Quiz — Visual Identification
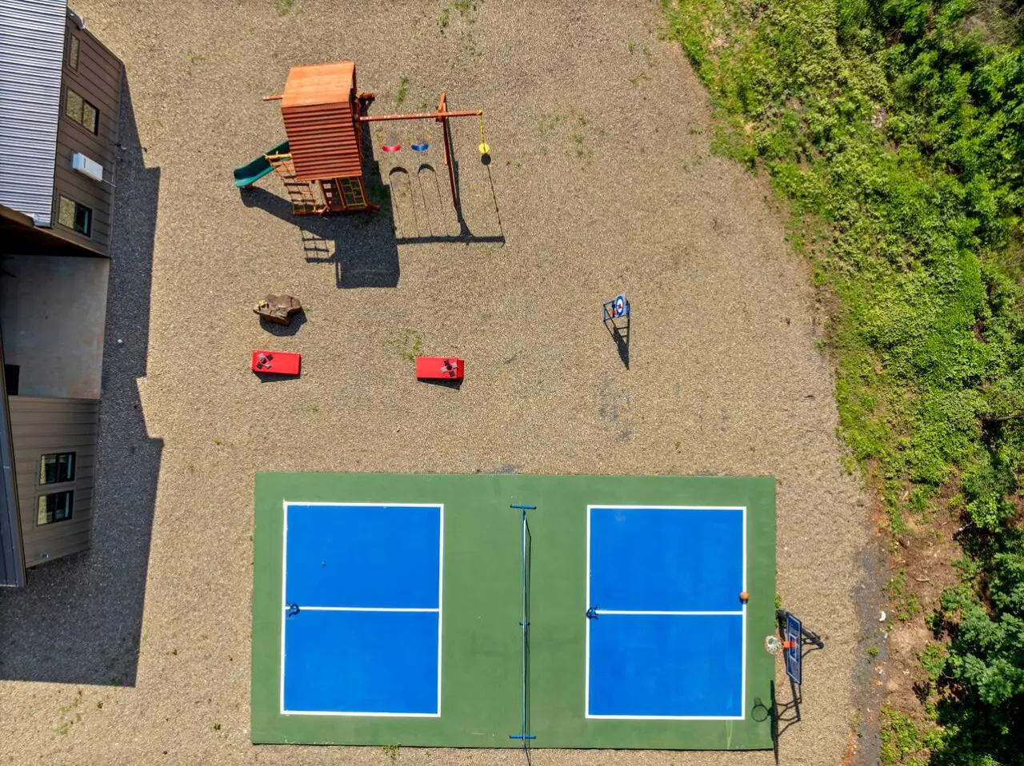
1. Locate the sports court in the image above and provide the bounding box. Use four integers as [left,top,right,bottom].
[250,472,777,751]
